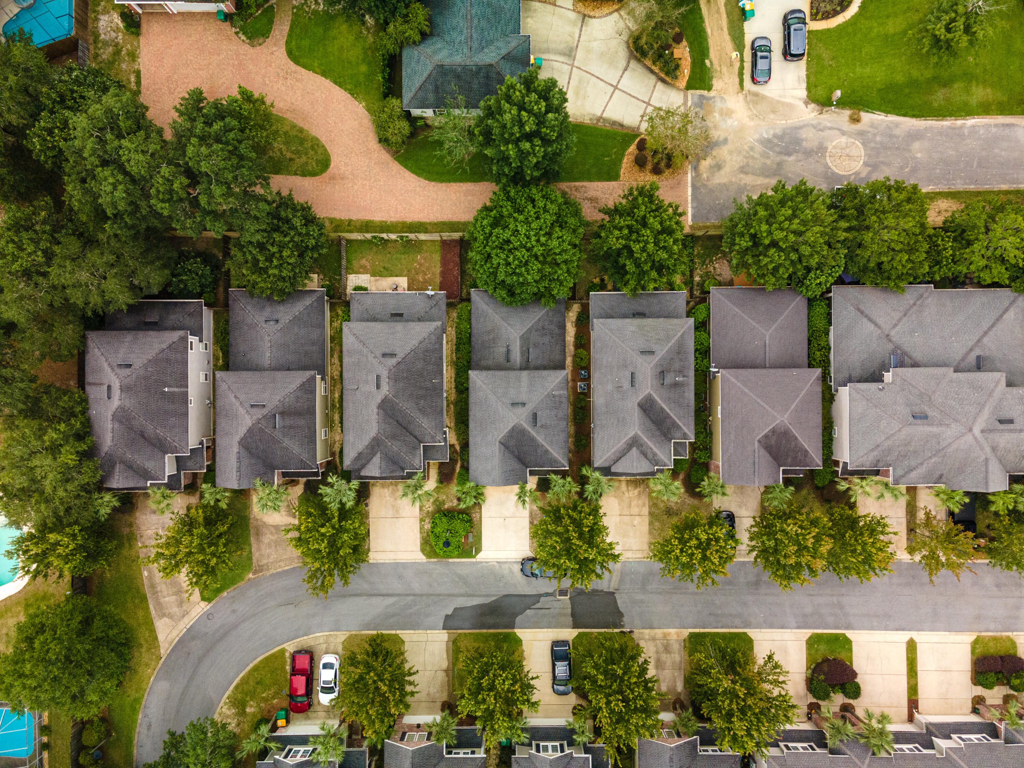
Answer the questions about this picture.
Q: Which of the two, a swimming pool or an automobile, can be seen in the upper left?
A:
swimming pool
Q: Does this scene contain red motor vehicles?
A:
Yes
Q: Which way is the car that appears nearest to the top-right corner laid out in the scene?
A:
from top to bottom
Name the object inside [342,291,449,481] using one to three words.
house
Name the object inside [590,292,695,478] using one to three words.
house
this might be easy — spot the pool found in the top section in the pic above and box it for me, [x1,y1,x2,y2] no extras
[6,0,73,43]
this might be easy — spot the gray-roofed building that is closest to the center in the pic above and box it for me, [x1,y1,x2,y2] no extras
[468,289,569,486]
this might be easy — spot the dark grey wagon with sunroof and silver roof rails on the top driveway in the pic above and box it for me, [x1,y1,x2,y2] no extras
[782,9,810,63]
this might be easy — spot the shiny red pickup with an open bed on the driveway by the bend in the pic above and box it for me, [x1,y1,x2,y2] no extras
[287,649,314,713]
